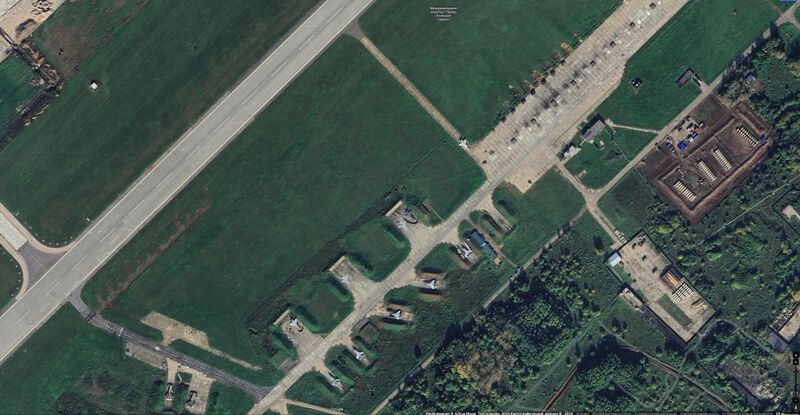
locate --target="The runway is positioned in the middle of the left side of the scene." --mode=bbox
[0,0,373,360]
